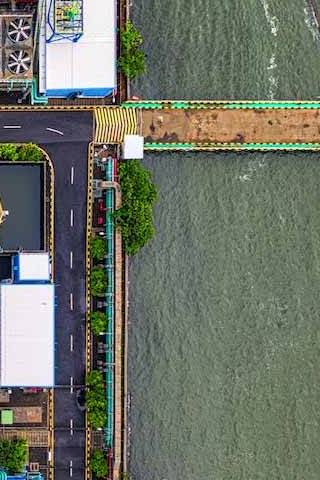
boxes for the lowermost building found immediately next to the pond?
[0,284,55,387]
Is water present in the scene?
Yes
